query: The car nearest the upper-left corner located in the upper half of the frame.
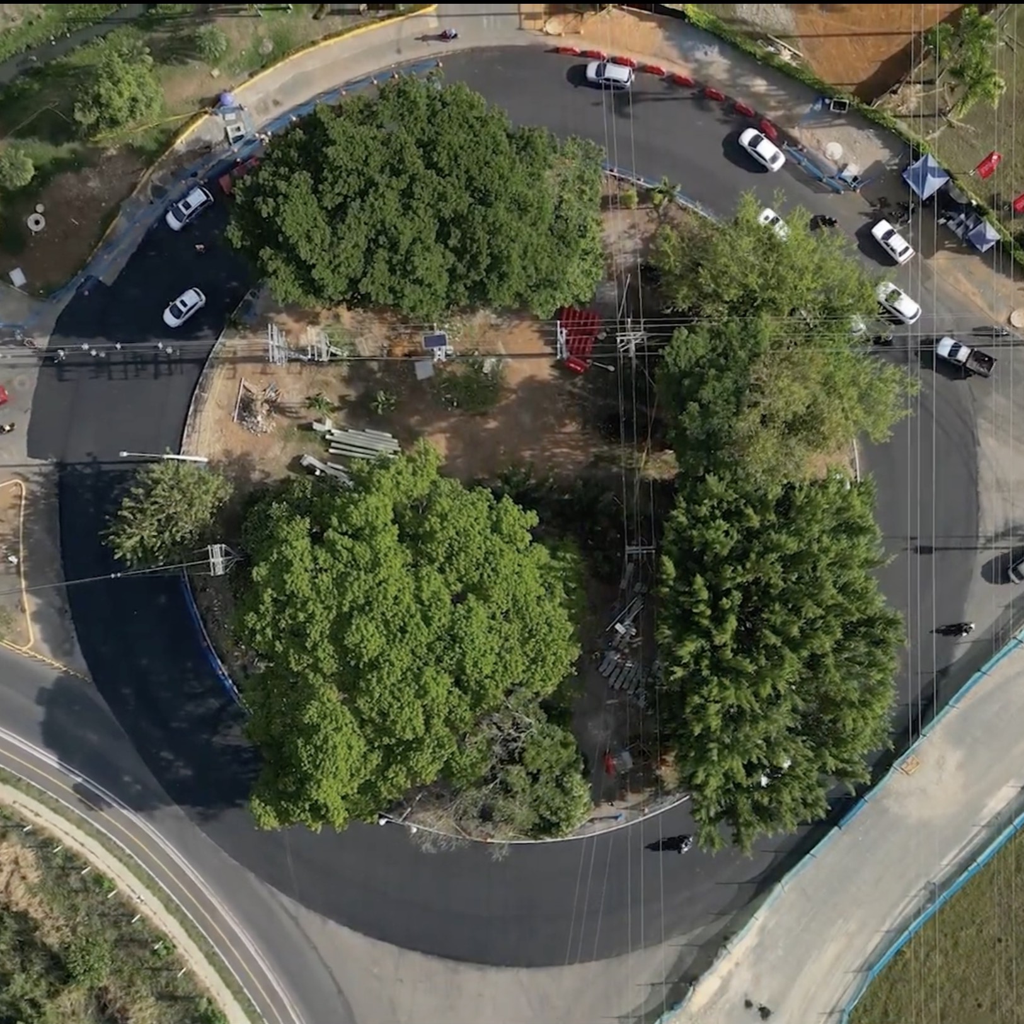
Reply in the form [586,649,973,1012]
[163,185,213,227]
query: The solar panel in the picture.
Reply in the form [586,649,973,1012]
[422,332,447,350]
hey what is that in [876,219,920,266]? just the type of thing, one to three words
car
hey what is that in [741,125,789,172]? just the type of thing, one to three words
car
